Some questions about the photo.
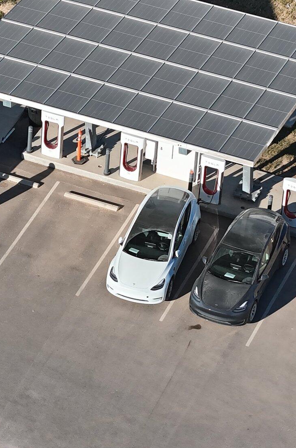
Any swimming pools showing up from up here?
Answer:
No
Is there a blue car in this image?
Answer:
No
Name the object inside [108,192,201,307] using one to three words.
car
